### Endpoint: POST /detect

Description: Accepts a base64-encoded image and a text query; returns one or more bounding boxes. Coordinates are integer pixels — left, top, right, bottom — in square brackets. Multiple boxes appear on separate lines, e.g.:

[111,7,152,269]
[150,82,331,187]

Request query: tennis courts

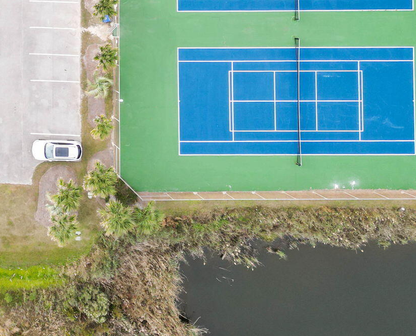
[117,29,416,191]
[117,0,416,29]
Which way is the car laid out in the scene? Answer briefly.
from left to right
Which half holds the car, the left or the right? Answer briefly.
left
